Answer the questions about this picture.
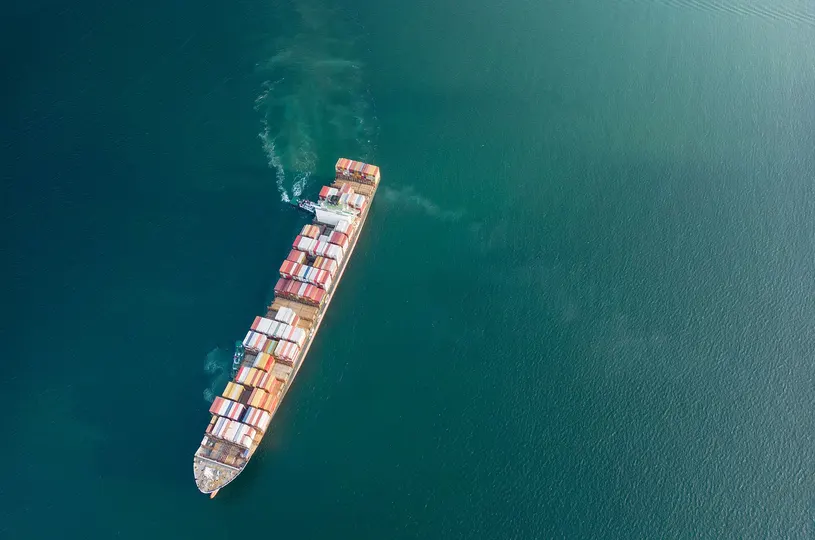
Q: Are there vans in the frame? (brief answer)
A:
No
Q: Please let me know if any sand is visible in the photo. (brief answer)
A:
No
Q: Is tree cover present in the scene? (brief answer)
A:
No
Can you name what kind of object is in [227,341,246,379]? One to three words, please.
boat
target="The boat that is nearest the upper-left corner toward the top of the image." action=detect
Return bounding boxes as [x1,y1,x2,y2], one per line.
[290,198,316,213]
